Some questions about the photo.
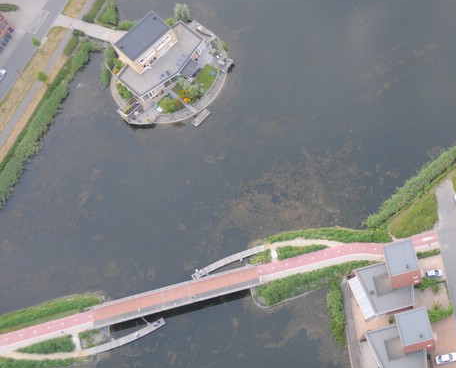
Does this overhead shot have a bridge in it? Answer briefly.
Yes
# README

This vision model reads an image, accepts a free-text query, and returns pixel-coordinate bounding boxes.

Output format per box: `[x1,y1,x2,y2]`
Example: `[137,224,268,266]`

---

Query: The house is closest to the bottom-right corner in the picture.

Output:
[365,307,435,368]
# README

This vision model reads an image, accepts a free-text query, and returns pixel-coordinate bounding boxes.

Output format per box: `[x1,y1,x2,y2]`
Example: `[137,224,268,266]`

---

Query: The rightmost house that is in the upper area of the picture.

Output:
[114,11,207,103]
